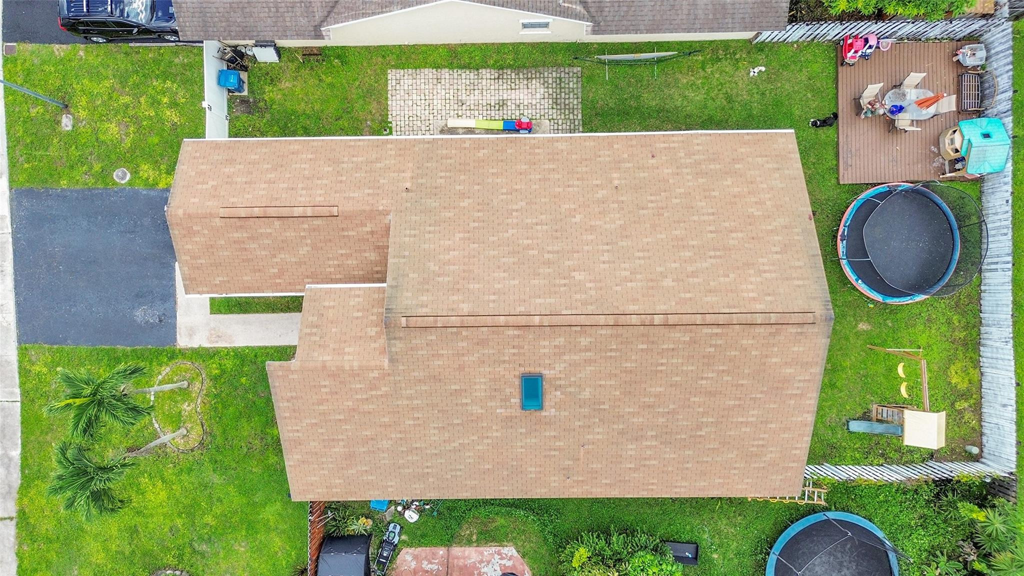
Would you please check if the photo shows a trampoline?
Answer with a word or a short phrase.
Yes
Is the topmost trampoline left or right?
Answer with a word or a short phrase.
right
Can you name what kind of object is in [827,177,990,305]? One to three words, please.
trampoline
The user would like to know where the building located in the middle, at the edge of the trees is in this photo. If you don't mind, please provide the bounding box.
[162,128,835,501]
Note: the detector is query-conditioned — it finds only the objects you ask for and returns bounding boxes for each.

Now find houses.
[162,128,835,501]
[172,0,791,48]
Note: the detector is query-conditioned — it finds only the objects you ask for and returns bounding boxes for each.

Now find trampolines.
[827,177,990,305]
[758,504,915,576]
